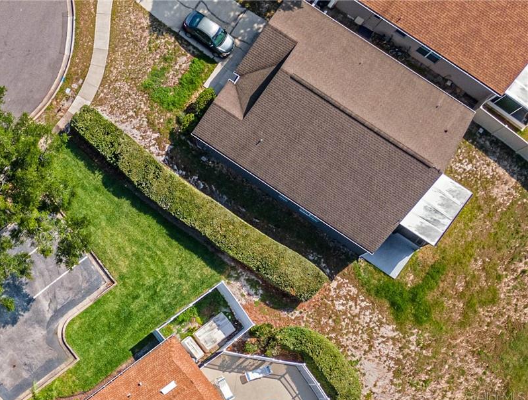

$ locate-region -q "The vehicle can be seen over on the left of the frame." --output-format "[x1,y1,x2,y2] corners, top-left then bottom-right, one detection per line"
[181,7,236,61]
